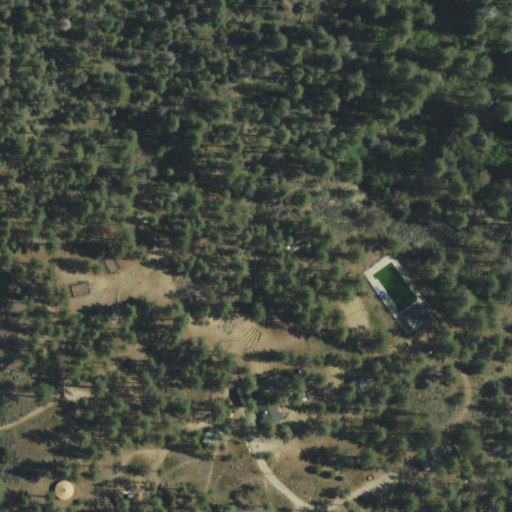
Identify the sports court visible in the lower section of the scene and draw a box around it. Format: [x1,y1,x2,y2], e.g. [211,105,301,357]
[344,295,371,329]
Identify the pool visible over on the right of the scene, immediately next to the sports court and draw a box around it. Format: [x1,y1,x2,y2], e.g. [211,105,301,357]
[364,256,432,334]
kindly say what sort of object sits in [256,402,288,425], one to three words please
house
